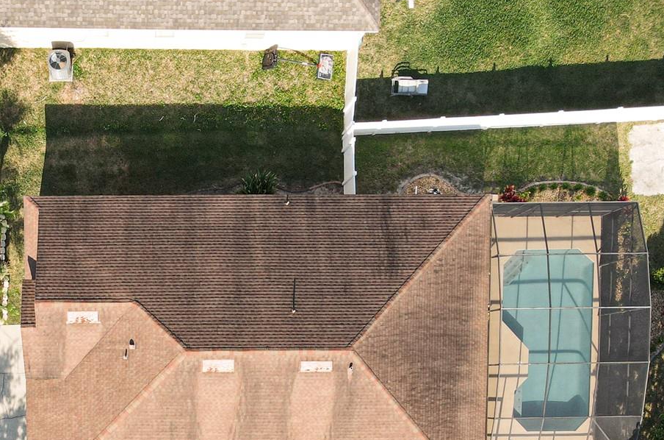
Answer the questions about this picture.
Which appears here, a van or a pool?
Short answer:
pool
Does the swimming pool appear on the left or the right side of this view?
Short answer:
right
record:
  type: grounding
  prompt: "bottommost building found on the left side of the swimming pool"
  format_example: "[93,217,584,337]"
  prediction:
[19,192,499,440]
